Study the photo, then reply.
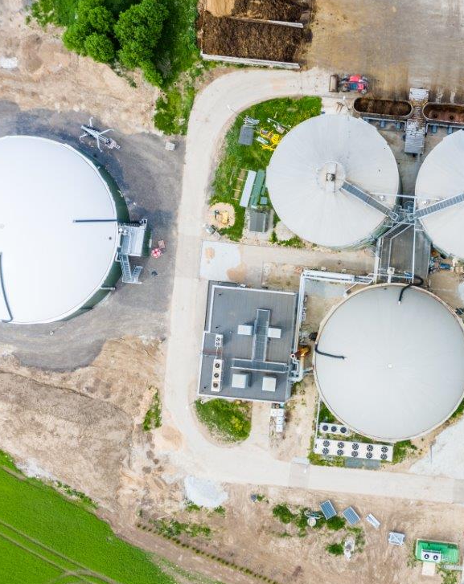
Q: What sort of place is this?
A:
industrial area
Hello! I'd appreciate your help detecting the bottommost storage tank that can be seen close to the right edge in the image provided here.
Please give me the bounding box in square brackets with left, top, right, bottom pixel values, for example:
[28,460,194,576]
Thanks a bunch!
[309,274,464,441]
